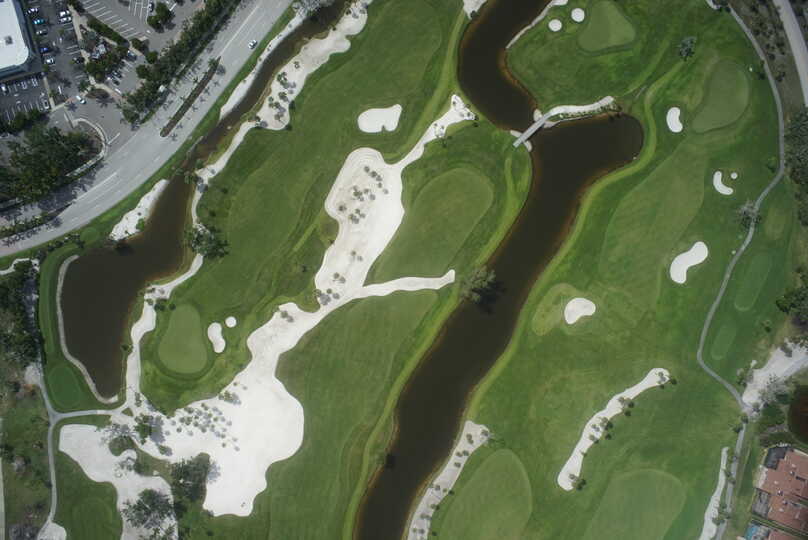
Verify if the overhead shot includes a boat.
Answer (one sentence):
No, the scene contains no boat.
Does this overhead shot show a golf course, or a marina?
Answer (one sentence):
This image shows a golf course.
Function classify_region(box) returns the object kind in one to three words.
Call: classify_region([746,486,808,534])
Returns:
house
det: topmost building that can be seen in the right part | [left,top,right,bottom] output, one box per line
[752,445,808,506]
